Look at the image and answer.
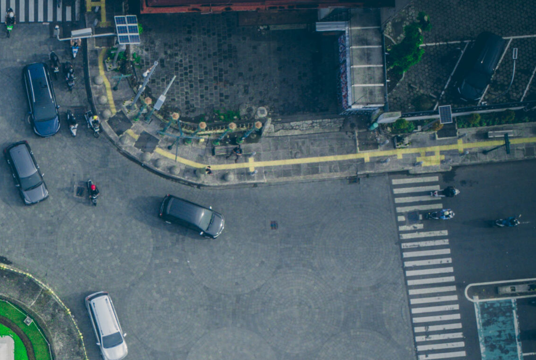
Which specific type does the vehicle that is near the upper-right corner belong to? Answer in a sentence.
The vehicle that is near the upper-right corner in the image is a car.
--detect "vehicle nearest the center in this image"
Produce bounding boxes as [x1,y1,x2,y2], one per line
[158,193,222,240]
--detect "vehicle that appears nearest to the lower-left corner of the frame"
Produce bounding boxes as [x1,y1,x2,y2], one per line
[82,288,126,360]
